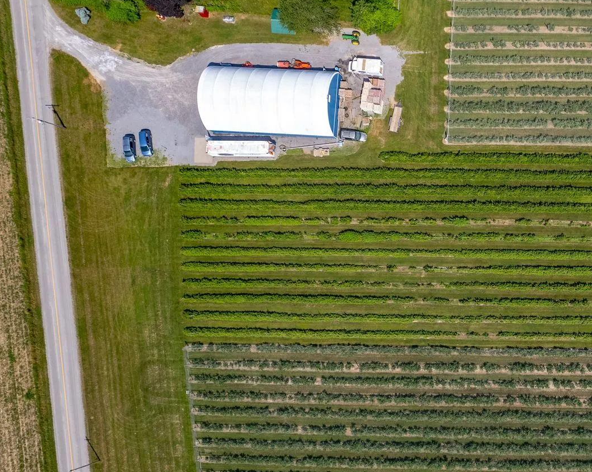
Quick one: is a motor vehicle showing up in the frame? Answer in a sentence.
Yes, looking at the shot, I can spot a motor vehicle.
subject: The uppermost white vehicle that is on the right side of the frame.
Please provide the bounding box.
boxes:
[350,55,386,74]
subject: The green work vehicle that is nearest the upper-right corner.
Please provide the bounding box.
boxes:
[339,32,362,46]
